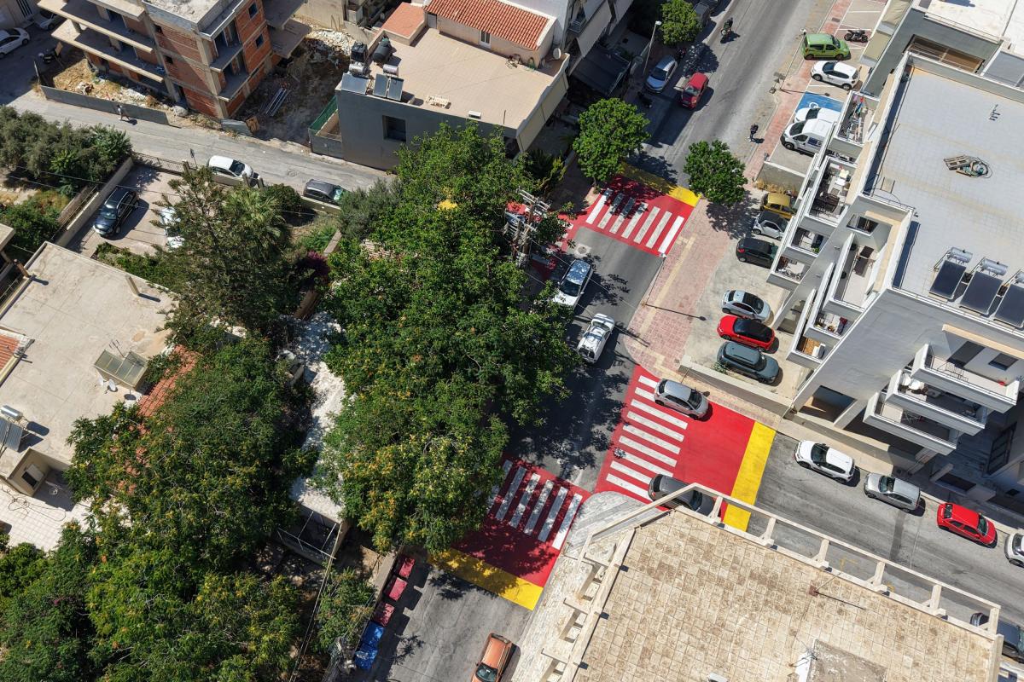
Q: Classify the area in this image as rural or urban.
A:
urban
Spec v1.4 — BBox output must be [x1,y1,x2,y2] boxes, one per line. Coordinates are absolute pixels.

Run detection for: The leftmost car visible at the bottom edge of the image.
[464,627,514,682]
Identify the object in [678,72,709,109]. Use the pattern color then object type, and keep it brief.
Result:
red car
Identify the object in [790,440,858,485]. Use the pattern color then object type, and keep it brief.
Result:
white car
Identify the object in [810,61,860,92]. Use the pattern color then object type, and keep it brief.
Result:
white car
